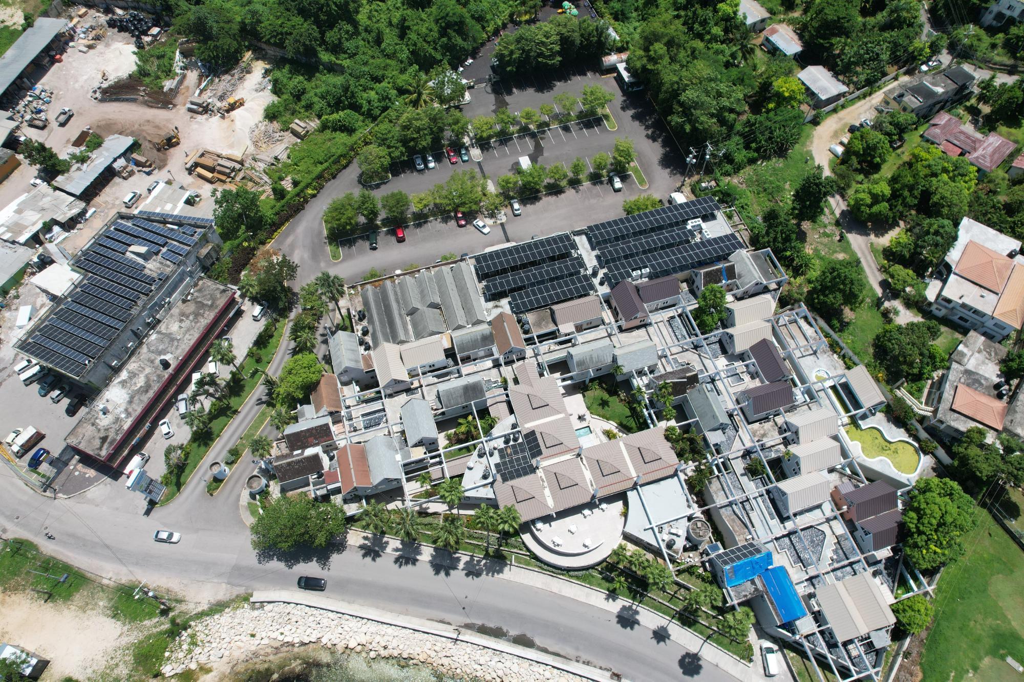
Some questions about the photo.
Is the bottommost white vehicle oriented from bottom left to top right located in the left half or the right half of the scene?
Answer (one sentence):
The bottommost white vehicle oriented from bottom left to top right appears in the left half of the scene.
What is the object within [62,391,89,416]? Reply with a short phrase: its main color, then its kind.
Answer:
black car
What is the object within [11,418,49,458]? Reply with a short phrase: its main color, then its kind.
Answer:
white truck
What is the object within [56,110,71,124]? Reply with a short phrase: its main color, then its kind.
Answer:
gray vehicle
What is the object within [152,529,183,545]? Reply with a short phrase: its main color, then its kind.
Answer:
white car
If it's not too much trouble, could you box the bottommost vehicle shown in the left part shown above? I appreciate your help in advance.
[295,574,329,591]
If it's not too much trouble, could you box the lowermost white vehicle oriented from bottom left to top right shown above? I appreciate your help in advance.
[120,450,151,481]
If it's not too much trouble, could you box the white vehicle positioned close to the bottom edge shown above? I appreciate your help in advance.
[760,642,779,679]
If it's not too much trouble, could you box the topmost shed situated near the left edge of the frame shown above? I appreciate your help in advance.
[0,18,72,107]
